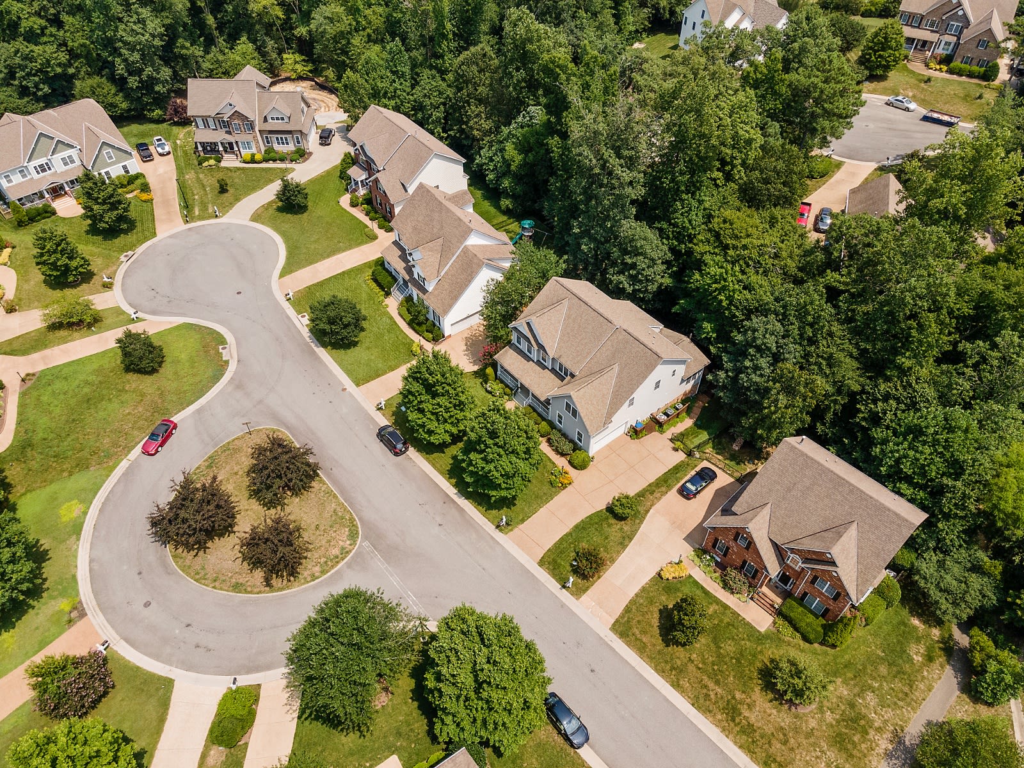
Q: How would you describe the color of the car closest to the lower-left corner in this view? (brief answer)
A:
red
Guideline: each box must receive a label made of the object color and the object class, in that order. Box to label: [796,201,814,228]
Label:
red vehicle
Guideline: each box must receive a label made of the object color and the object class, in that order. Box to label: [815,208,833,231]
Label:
gray car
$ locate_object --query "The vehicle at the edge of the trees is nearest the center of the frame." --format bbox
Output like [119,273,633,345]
[375,425,411,460]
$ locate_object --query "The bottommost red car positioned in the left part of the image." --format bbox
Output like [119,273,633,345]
[142,419,177,457]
